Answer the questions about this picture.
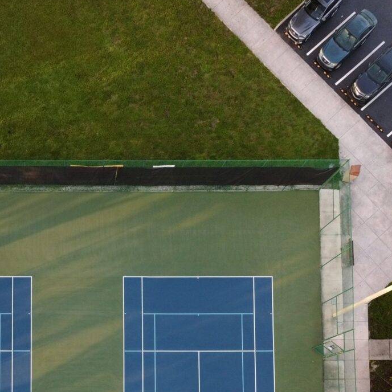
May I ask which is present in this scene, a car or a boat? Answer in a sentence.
Of the two, only a car appears.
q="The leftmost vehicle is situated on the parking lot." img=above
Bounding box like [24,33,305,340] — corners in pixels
[286,0,350,46]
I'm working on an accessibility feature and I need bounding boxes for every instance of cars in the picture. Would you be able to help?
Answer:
[318,11,383,74]
[286,0,350,46]
[351,51,392,109]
